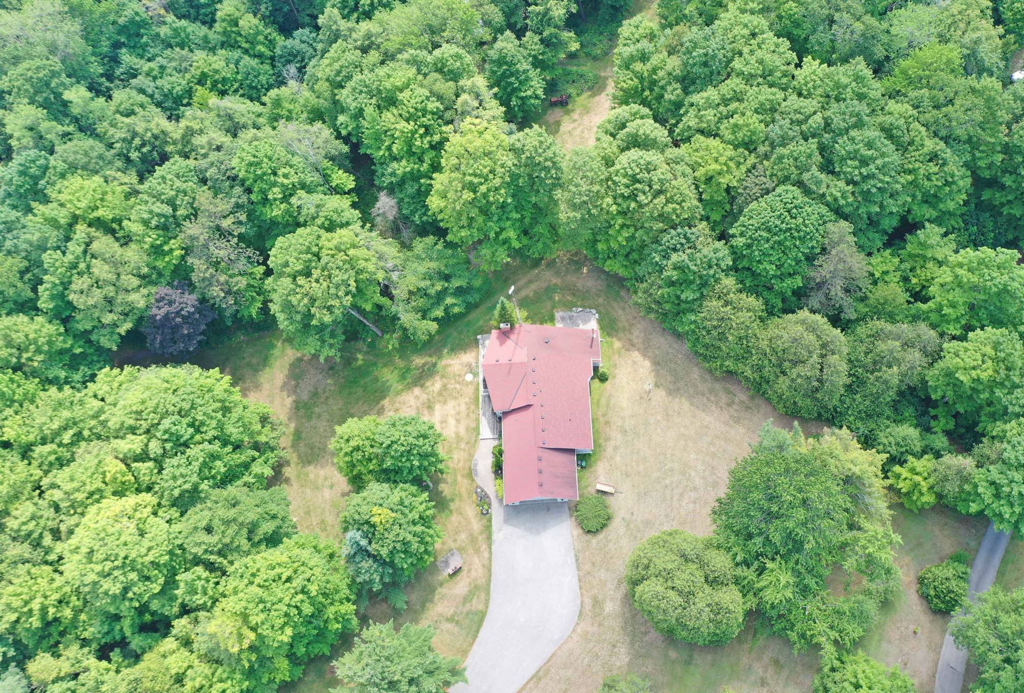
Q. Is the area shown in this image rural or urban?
rural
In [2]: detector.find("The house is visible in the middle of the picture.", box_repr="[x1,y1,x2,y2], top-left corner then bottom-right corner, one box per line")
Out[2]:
[482,322,606,506]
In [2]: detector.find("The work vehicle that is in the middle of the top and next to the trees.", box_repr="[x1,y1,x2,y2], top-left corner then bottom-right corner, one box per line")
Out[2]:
[549,93,572,109]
